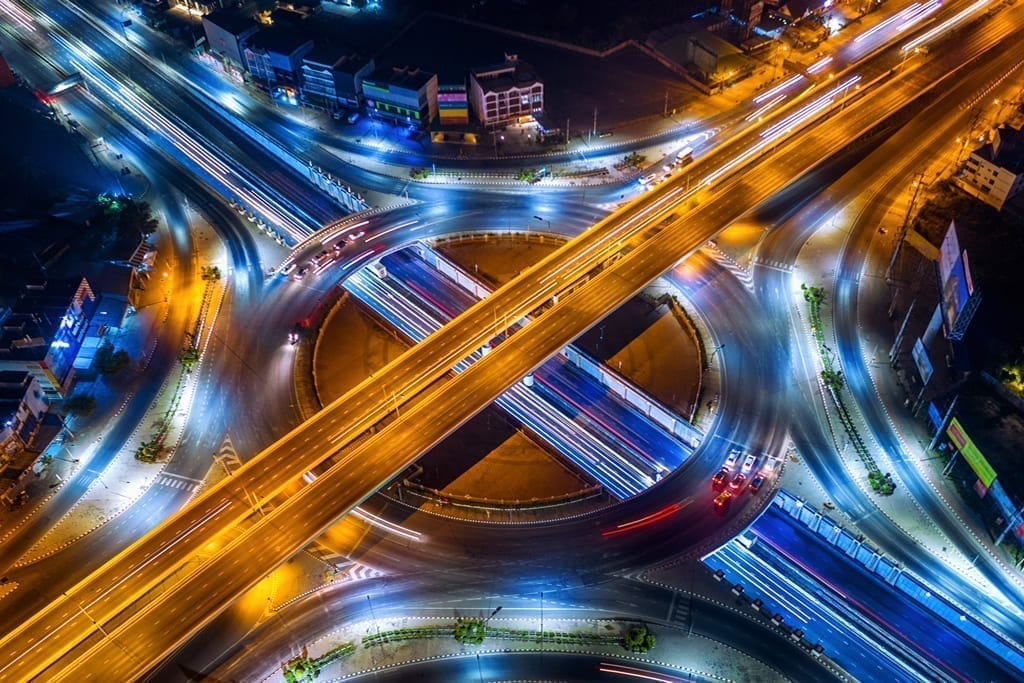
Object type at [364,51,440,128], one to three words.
building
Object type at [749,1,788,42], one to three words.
building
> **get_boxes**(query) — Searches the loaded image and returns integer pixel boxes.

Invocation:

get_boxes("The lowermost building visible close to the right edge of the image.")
[955,131,1024,212]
